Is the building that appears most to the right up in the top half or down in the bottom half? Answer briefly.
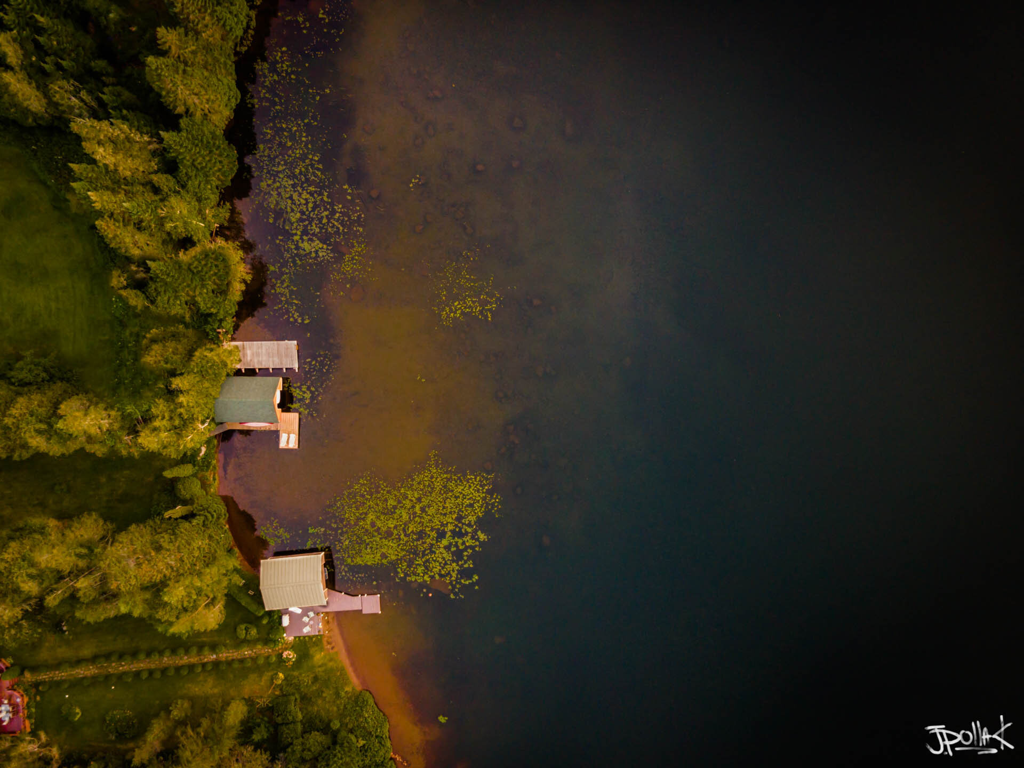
bottom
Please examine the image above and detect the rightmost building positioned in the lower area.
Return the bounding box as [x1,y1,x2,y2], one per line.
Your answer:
[259,551,329,611]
